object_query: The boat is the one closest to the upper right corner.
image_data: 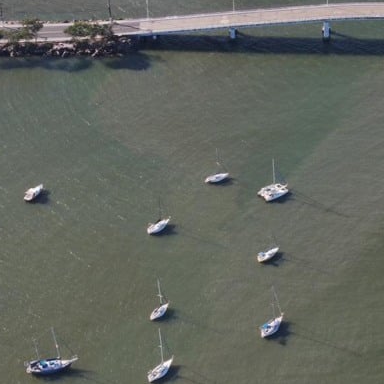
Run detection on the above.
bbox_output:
[257,159,292,202]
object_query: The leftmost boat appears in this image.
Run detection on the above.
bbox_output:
[21,183,43,200]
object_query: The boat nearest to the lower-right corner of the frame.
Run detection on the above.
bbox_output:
[257,293,282,339]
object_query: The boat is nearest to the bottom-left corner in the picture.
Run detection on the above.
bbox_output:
[24,329,79,374]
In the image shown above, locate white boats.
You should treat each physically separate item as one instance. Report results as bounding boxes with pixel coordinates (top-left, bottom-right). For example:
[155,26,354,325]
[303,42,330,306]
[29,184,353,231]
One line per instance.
[257,159,292,202]
[21,183,43,200]
[203,167,230,184]
[257,293,282,339]
[144,327,175,383]
[146,282,170,321]
[254,226,280,264]
[145,197,170,235]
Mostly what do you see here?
water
